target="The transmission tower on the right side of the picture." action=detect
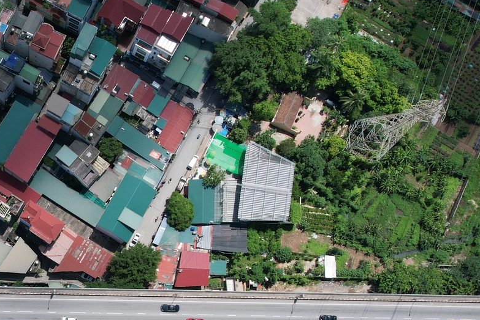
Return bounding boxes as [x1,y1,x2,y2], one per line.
[341,103,438,170]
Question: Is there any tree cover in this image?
Yes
